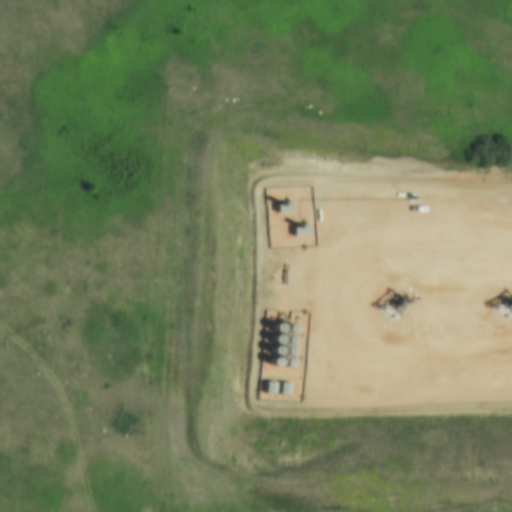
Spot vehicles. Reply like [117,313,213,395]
[398,191,421,202]
[412,206,430,214]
